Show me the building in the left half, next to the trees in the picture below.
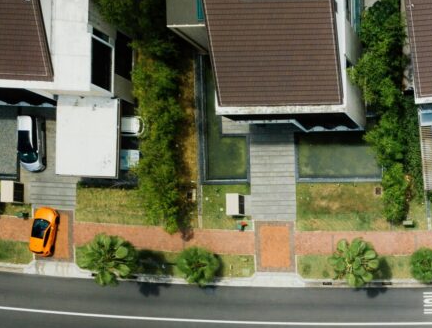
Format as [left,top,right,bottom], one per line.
[0,0,137,180]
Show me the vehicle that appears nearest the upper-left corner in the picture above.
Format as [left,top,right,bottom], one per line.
[13,115,48,173]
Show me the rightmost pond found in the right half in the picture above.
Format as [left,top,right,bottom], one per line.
[296,129,382,182]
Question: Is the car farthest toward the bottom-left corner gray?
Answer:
No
